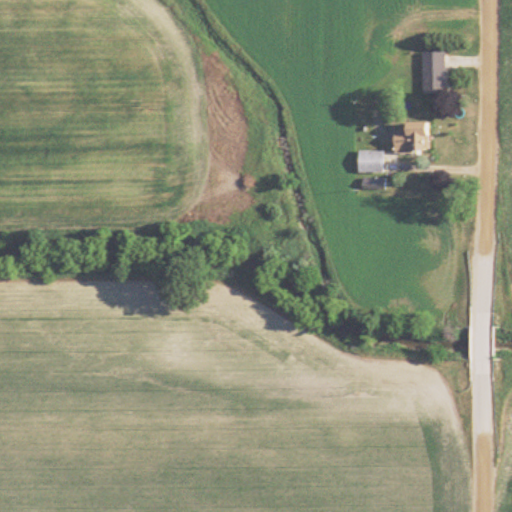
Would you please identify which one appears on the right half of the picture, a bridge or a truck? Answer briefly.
bridge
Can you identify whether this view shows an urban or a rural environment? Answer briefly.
rural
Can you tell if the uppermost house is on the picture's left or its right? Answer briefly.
right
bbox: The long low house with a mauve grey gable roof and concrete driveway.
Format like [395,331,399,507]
[422,52,445,92]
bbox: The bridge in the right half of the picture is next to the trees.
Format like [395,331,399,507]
[464,327,496,359]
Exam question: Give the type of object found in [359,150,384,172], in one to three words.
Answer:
shed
